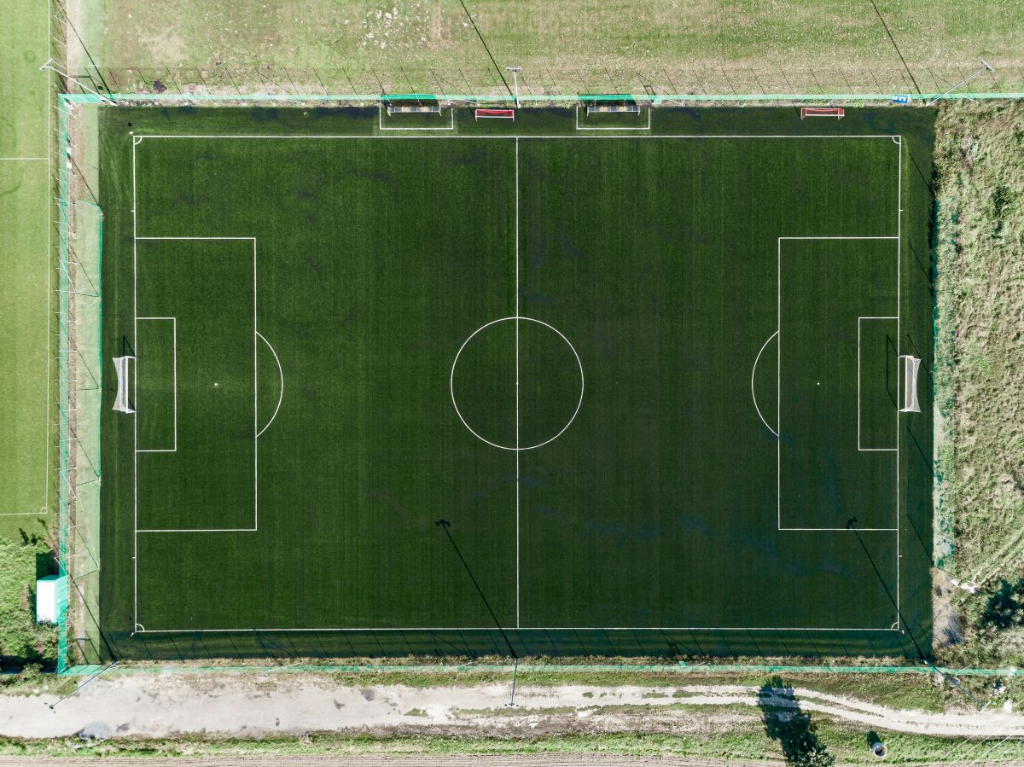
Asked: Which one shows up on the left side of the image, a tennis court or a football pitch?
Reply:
football pitch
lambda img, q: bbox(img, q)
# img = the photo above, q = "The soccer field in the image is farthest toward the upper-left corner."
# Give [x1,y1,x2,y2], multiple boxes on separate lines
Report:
[0,0,53,529]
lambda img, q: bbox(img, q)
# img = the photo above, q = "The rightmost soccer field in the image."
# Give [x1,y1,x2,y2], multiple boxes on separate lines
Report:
[99,107,934,657]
